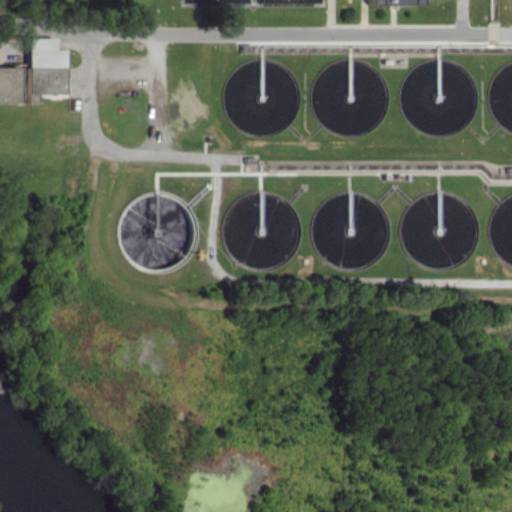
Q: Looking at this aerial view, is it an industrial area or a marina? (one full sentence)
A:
This looks like an industrial area.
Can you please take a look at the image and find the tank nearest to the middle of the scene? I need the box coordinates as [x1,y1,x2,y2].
[222,176,301,272]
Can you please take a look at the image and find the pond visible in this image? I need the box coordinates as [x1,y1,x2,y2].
[184,458,252,512]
